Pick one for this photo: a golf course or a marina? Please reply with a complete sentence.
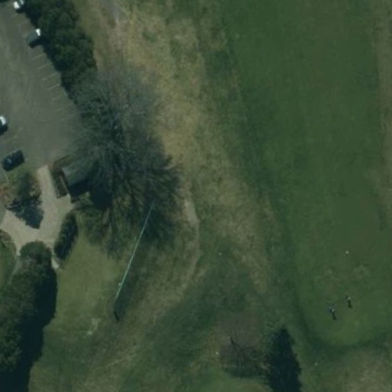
It's a golf course.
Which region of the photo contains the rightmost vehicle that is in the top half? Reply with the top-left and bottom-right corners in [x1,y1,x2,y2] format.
[23,27,45,43]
